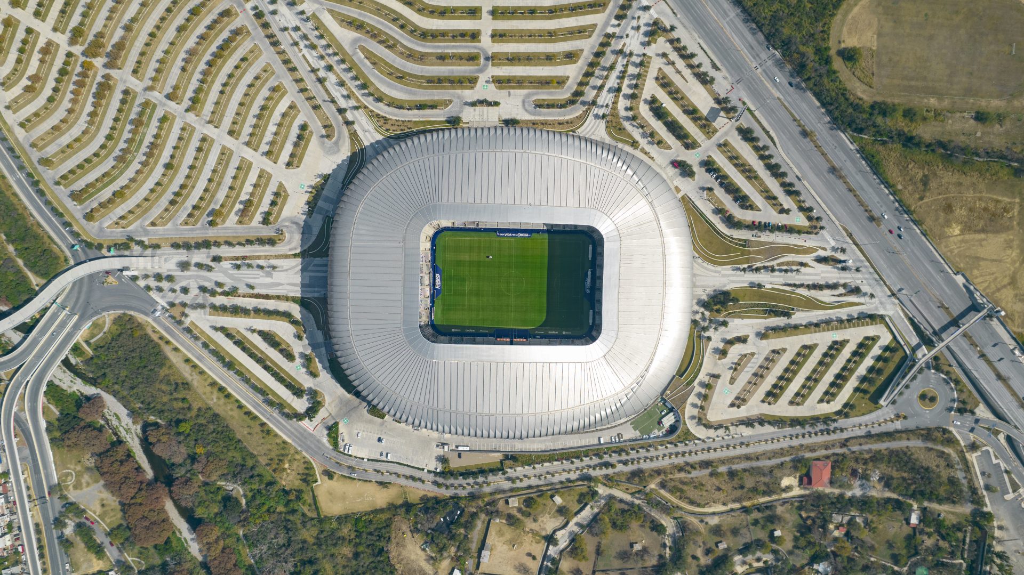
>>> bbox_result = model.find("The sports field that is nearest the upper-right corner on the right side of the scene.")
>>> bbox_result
[830,0,1024,108]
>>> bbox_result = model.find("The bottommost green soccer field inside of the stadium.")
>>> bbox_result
[430,227,596,338]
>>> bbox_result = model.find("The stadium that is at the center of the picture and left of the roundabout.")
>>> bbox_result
[327,125,693,440]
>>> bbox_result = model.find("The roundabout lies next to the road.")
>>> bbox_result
[903,373,956,424]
